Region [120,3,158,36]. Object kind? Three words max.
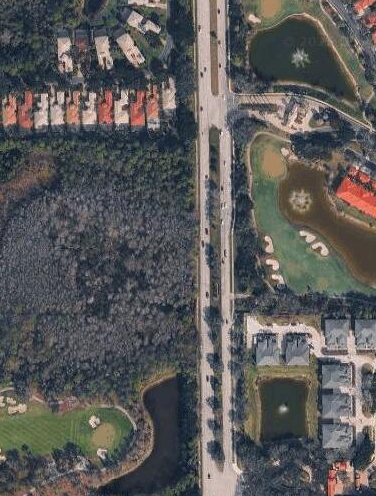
house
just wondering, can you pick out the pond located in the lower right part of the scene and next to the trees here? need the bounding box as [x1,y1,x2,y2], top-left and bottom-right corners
[258,376,309,439]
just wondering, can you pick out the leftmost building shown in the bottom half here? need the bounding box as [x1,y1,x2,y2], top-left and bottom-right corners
[255,335,279,366]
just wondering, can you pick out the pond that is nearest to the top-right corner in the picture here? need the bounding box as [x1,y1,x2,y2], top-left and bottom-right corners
[248,15,355,100]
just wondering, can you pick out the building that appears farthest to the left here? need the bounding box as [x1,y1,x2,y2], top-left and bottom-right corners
[1,96,16,132]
